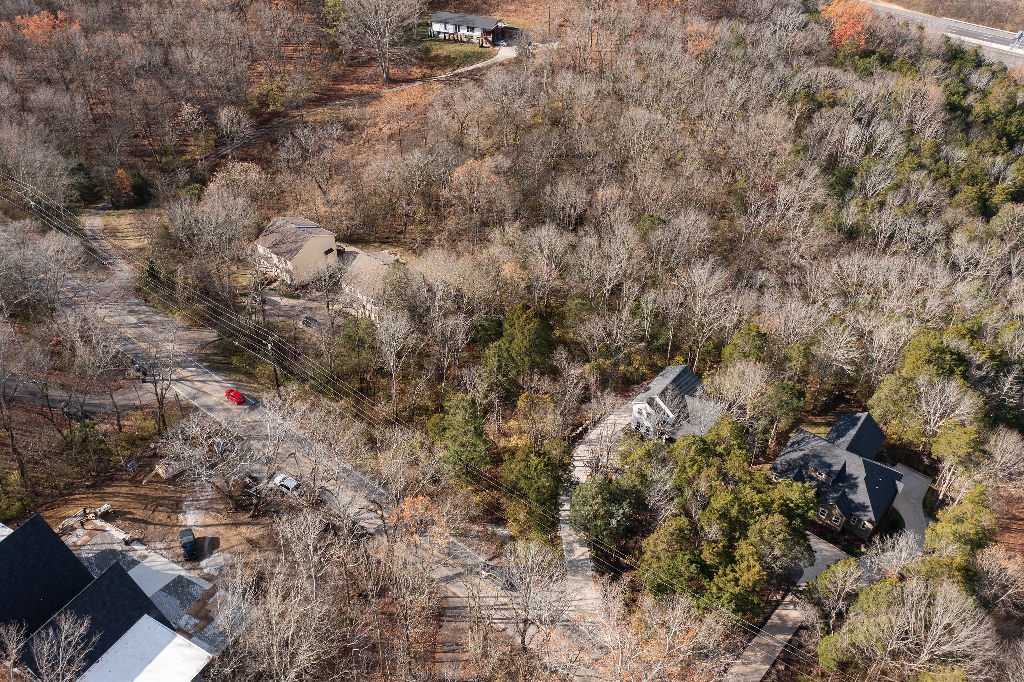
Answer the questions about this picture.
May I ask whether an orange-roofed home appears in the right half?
No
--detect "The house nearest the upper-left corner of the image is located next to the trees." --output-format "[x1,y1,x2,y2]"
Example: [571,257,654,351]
[250,218,348,290]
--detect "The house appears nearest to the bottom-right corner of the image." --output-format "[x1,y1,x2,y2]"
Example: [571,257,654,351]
[772,413,911,543]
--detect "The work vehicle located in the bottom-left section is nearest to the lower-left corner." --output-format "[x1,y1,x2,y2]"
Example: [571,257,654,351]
[89,499,120,520]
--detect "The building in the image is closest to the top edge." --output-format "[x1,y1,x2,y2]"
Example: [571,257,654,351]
[430,12,506,47]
